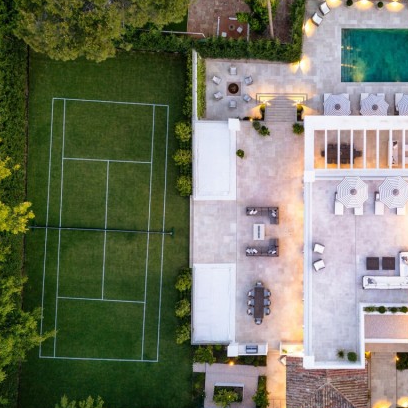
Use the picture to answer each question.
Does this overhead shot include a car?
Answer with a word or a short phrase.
No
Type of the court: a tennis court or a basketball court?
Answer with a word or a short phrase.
tennis court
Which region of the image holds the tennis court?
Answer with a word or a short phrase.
left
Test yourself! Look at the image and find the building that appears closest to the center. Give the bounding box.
[192,122,239,201]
